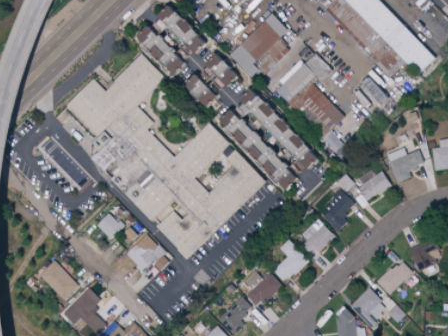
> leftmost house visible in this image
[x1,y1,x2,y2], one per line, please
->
[42,261,80,300]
